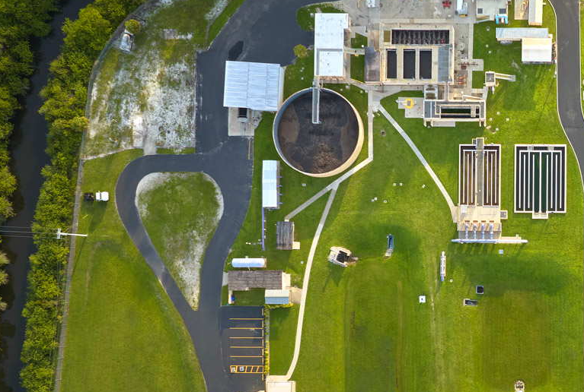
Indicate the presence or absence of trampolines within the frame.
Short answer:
No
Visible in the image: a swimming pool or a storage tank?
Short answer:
storage tank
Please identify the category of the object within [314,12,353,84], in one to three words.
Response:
building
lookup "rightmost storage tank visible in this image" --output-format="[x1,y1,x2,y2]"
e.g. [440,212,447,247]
[515,145,566,220]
